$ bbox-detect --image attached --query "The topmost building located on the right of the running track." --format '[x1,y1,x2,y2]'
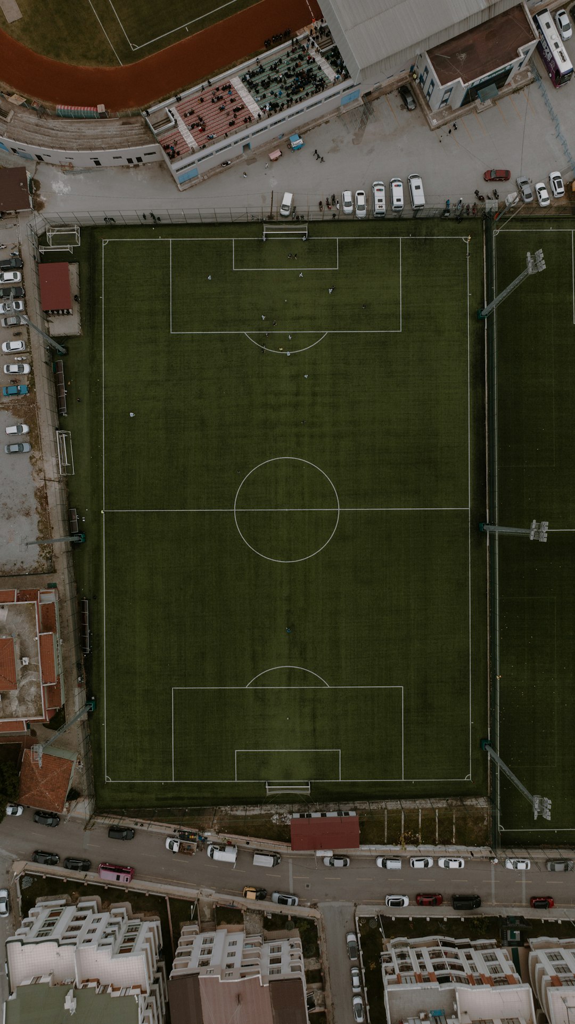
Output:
[412,5,541,131]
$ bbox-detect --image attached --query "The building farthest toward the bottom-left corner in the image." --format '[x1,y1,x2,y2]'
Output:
[4,896,174,1024]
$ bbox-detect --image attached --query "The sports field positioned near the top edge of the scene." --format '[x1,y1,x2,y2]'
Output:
[0,0,261,67]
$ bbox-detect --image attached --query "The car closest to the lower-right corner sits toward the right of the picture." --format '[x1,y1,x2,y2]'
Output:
[530,895,555,910]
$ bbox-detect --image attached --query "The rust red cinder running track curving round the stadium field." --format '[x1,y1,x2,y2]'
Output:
[0,0,337,111]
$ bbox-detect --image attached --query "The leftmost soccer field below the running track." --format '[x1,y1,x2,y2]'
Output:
[39,219,489,803]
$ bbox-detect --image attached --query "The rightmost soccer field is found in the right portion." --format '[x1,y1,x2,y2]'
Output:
[498,216,575,849]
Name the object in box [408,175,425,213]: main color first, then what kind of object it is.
white vehicle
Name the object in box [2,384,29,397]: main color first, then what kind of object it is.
blue vehicle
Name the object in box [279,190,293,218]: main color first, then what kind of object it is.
white car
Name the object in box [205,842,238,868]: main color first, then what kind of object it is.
white vehicle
